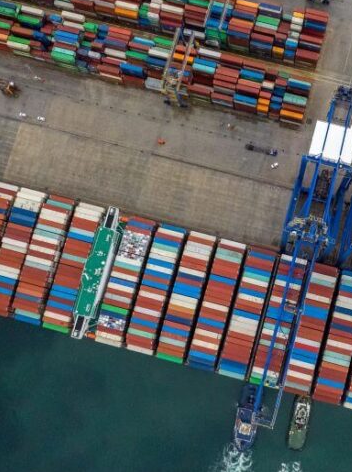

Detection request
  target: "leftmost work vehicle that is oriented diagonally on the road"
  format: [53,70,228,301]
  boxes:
[0,74,19,93]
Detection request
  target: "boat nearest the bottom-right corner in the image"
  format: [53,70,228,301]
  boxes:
[286,393,315,453]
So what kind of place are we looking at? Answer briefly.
port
